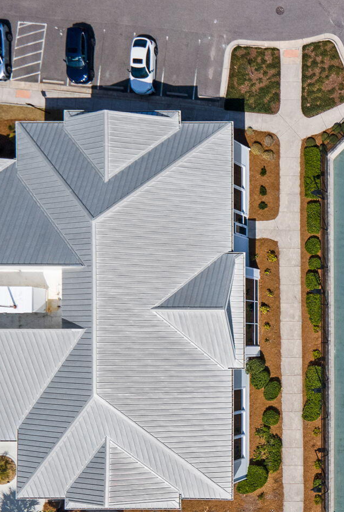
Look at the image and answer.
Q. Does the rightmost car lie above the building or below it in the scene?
above it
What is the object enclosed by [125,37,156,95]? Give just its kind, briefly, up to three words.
car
